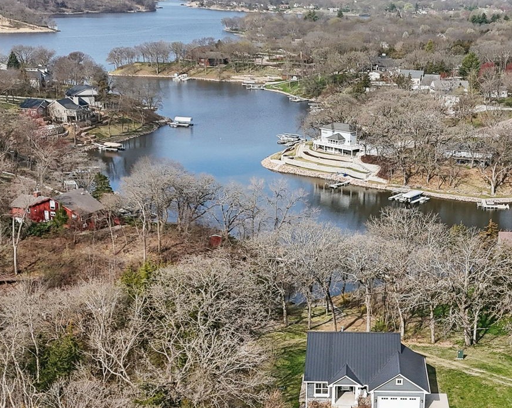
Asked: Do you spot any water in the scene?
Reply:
Yes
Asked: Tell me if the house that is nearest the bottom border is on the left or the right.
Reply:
right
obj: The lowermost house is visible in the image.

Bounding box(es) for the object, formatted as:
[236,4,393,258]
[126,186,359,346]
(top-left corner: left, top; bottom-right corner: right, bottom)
[301,322,430,408]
